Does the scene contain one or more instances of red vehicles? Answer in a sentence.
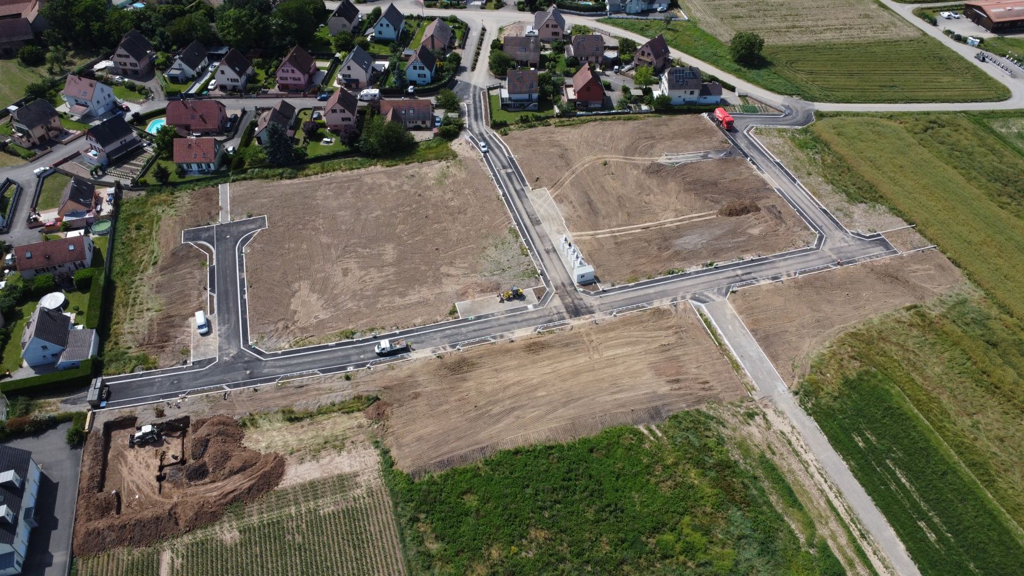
Yes, I can see a red vehicle in this picture.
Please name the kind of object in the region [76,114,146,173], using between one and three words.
house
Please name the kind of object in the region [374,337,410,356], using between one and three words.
vehicle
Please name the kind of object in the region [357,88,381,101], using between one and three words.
vehicle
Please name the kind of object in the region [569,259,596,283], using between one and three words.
building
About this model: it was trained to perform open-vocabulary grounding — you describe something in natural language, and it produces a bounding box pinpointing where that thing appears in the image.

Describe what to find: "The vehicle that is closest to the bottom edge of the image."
[126,425,186,451]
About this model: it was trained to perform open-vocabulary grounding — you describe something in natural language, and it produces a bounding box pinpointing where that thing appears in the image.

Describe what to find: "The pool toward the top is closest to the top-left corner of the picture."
[146,117,167,131]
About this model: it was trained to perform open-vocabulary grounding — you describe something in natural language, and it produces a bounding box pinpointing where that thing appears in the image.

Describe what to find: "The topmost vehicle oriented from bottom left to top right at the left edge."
[29,161,51,177]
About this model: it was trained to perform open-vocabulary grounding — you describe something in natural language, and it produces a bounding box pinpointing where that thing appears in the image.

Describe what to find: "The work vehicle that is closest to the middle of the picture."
[498,286,529,303]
